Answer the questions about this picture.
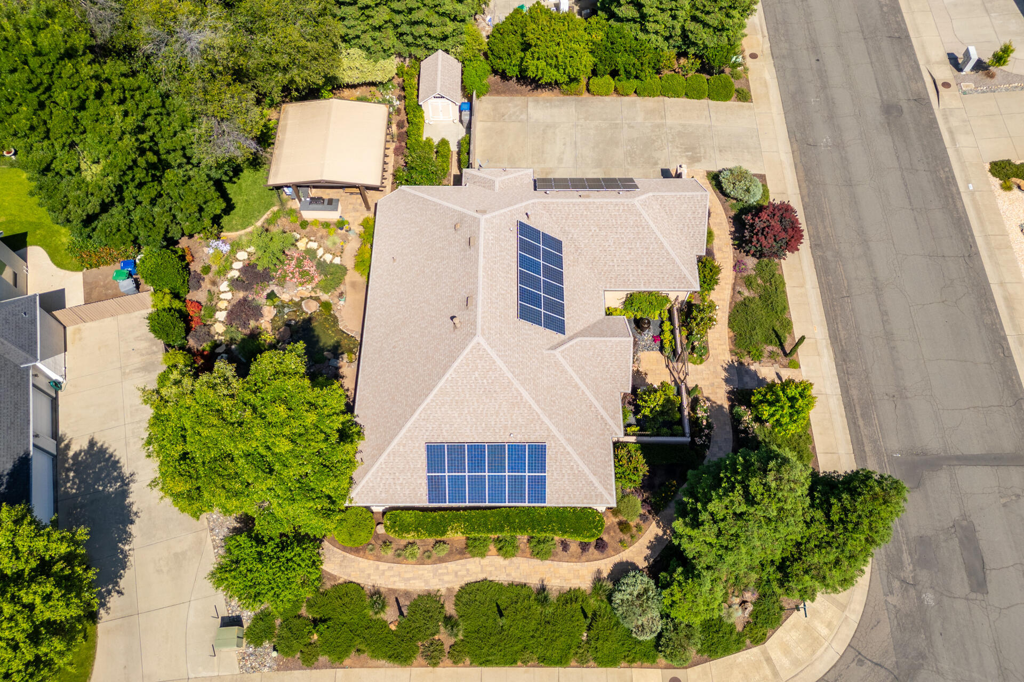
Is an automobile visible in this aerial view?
No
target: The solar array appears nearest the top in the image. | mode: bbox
[536,177,640,190]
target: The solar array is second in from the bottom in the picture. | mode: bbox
[517,220,566,335]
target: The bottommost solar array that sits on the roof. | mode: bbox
[425,444,547,504]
